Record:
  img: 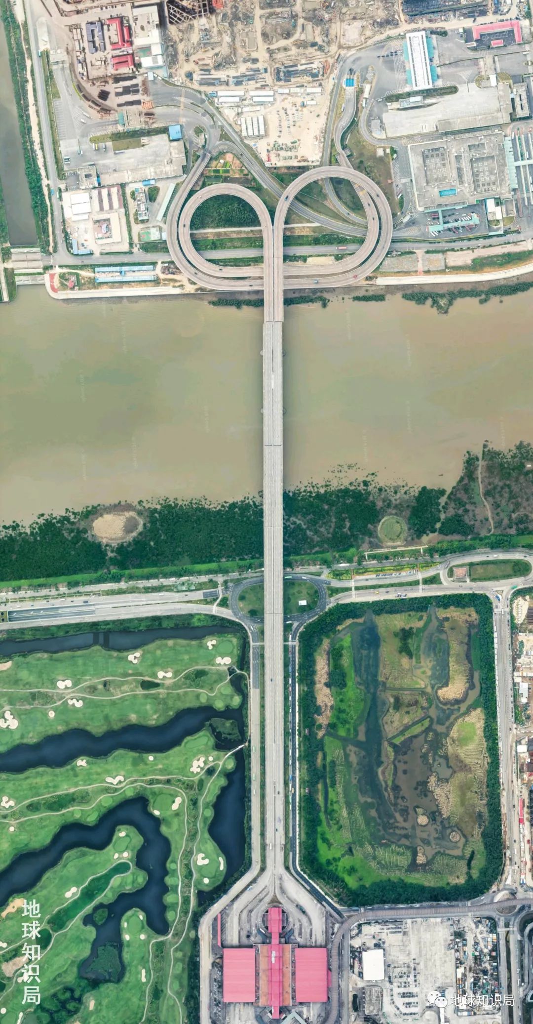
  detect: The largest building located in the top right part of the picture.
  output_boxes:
[409,130,513,211]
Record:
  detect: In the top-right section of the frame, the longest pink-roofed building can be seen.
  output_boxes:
[473,19,523,43]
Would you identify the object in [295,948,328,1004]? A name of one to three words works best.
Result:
building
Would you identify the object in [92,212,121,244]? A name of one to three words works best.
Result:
building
